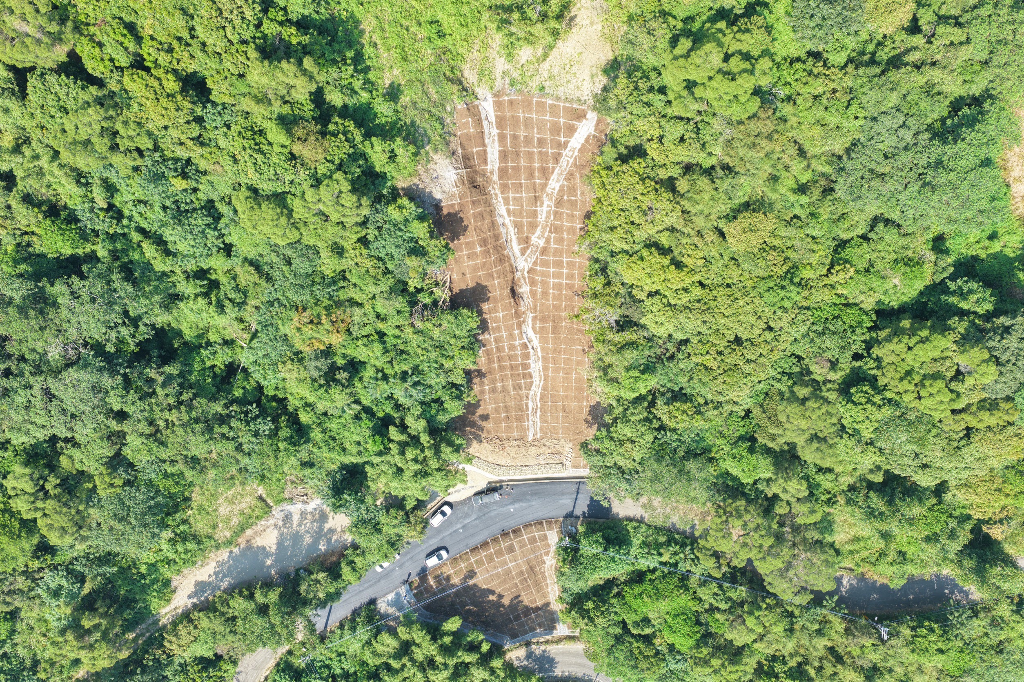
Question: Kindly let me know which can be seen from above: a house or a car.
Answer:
car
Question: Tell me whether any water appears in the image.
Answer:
No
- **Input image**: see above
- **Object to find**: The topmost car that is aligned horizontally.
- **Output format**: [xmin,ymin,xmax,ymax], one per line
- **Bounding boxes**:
[471,491,499,506]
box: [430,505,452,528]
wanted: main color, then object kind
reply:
white car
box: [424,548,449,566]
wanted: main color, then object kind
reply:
white car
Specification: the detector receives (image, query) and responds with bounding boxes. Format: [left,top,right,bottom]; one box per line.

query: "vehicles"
[376,552,401,572]
[471,491,499,506]
[424,548,449,566]
[430,505,452,528]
